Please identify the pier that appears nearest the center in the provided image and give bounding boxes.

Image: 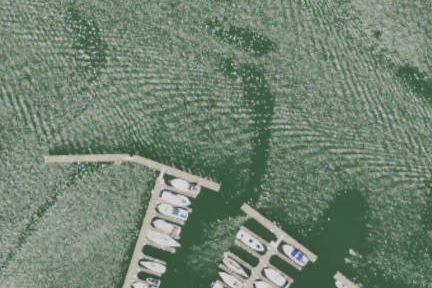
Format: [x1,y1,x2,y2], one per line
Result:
[128,156,220,192]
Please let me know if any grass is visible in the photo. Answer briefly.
No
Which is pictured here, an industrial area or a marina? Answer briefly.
marina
